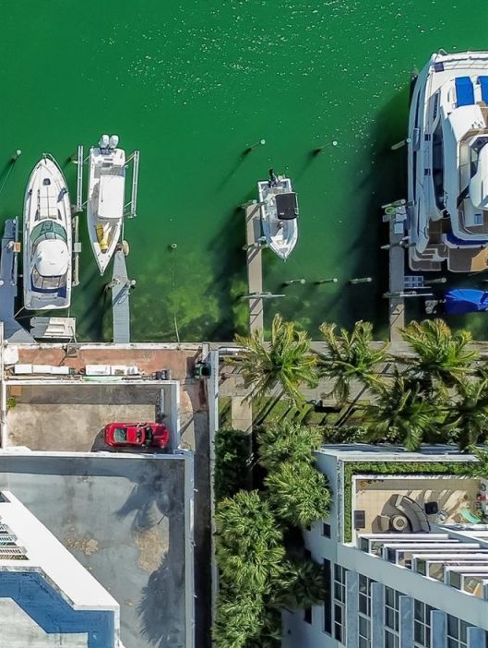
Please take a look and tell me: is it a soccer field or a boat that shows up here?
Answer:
boat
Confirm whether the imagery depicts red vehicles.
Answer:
Yes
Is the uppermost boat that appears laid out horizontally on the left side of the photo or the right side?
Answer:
right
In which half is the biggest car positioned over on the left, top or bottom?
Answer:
bottom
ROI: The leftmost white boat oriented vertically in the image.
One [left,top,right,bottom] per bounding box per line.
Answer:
[23,155,72,311]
